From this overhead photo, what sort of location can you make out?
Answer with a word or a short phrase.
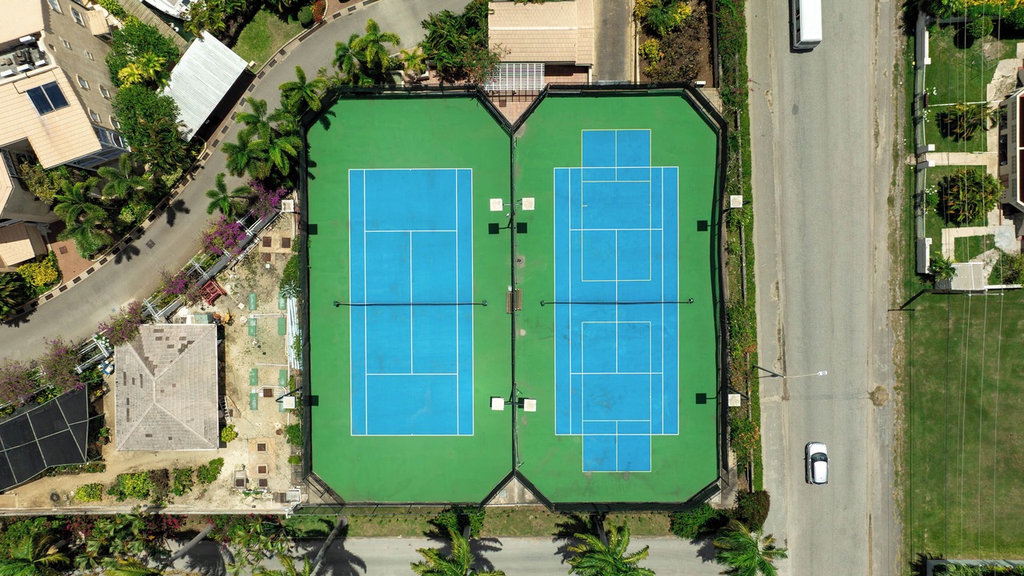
sports ground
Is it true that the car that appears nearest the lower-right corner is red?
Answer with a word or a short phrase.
No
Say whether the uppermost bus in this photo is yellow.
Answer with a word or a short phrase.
No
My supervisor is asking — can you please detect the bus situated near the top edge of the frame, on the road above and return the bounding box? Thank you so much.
[789,0,822,49]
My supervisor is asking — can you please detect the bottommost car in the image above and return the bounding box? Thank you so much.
[805,442,831,485]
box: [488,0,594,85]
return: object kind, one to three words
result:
house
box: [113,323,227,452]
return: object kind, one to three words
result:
house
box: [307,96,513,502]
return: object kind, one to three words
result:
tennis court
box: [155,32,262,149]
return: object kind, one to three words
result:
shed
